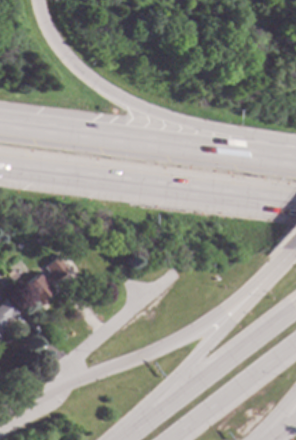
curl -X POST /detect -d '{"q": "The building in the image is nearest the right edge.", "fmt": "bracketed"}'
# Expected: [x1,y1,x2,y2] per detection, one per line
[49,250,78,276]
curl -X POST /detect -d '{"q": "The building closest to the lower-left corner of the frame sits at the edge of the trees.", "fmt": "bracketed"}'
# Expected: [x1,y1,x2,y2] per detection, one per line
[0,298,21,329]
